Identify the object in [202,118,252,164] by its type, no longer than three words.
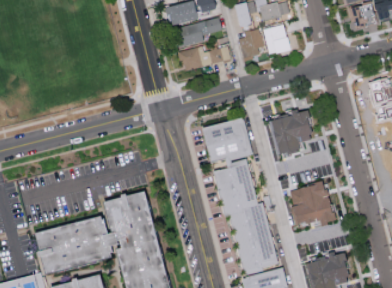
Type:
building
